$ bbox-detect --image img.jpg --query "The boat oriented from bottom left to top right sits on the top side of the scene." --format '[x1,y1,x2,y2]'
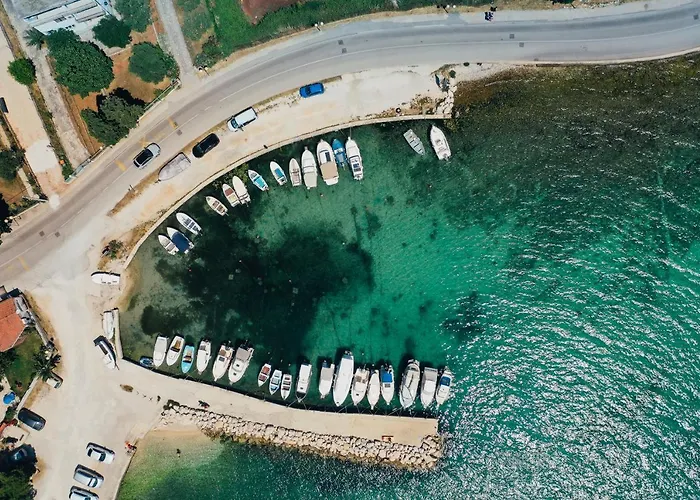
[157,151,193,185]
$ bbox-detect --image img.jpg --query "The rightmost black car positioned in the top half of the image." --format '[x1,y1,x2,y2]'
[192,132,221,158]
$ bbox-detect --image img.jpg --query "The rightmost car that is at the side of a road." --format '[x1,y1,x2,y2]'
[299,81,326,99]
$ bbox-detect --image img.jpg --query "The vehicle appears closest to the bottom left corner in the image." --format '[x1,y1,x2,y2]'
[12,444,34,464]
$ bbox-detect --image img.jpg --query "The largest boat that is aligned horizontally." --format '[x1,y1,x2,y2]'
[91,273,123,285]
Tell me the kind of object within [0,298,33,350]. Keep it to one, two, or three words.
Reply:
house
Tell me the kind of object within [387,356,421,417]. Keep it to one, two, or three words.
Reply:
boat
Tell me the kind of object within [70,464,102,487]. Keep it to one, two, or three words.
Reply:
car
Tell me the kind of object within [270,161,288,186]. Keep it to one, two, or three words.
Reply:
boat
